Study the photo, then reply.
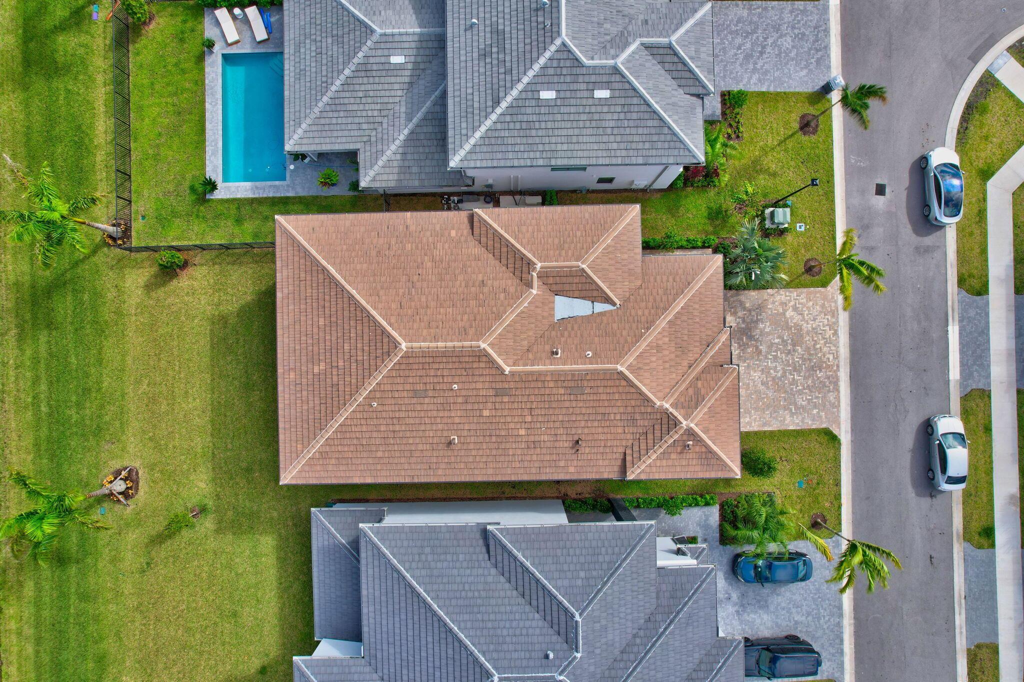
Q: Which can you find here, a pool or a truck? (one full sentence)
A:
The image shows a pool.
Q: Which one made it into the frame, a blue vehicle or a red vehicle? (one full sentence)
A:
Visible in the photo is a blue vehicle.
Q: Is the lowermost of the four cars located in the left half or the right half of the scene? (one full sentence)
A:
It is on the right.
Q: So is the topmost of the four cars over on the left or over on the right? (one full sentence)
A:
The topmost of the four cars appears in the right half of the scene.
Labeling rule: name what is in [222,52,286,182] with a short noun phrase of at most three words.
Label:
swimming pool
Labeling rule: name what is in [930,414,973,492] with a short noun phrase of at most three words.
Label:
car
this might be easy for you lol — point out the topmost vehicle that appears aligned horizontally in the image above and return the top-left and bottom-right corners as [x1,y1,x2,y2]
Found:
[731,550,814,588]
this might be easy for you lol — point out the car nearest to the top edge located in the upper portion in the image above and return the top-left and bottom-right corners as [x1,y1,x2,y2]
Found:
[921,148,965,225]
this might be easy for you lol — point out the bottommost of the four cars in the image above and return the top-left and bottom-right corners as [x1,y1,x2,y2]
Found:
[745,637,819,679]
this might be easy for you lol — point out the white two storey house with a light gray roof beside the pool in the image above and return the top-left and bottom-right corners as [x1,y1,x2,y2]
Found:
[280,0,717,195]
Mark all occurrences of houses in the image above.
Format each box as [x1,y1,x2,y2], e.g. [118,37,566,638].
[291,501,746,682]
[274,202,743,487]
[280,0,717,195]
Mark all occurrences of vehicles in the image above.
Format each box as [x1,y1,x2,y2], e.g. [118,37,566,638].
[731,550,814,588]
[921,148,965,225]
[930,414,973,492]
[745,637,819,679]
